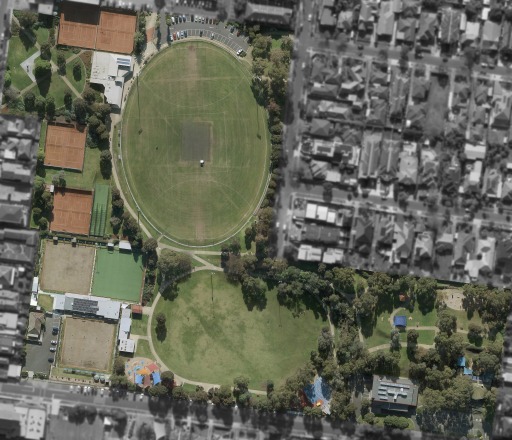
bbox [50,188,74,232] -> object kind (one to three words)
tennis court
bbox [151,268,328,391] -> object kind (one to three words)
sports field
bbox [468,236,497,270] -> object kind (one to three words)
house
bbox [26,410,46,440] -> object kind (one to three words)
building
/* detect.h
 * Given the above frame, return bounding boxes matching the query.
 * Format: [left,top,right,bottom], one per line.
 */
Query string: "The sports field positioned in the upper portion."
[120,40,272,246]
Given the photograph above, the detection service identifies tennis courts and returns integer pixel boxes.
[114,14,136,54]
[44,125,68,167]
[96,12,119,52]
[77,4,100,49]
[58,2,82,46]
[70,190,94,234]
[50,188,74,232]
[64,127,87,169]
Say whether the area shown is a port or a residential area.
residential area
